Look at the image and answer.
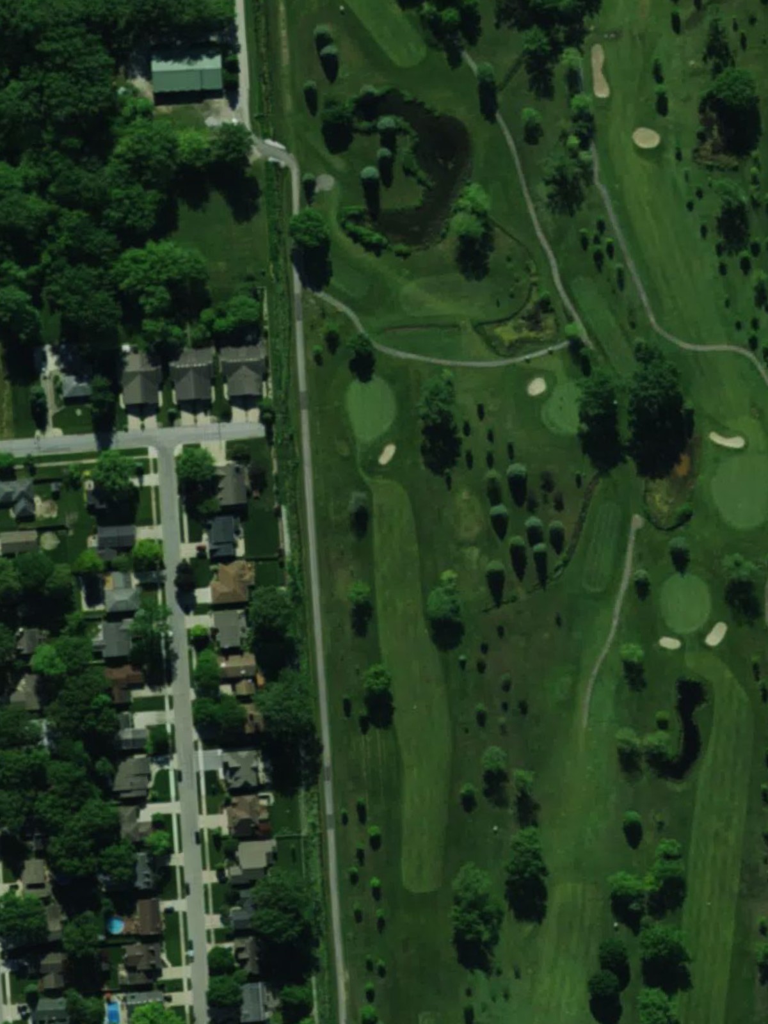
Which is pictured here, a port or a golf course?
golf course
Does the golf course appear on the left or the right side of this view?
right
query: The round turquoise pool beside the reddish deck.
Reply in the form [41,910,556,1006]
[107,917,124,934]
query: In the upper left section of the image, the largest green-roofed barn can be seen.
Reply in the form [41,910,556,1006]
[151,46,222,92]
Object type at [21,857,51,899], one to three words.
house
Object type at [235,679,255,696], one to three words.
building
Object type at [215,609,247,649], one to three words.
house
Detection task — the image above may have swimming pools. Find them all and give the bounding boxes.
[107,917,124,934]
[104,999,122,1024]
